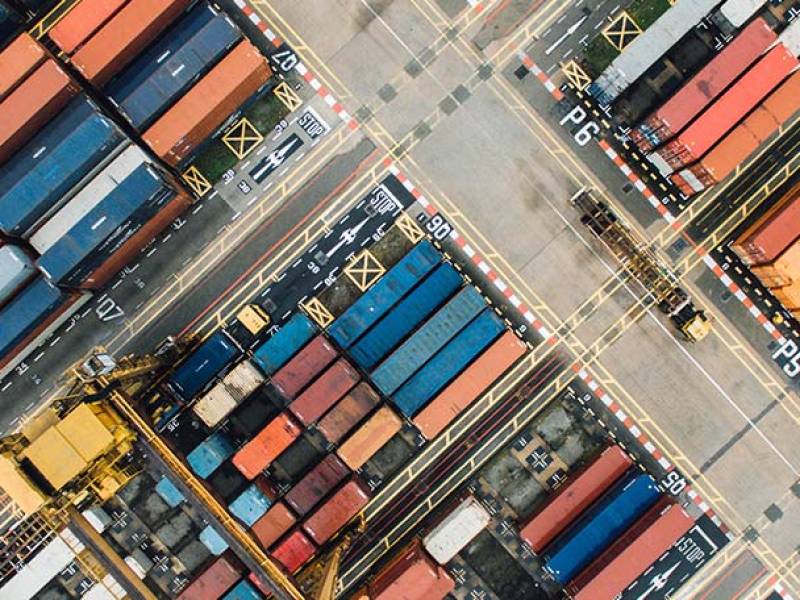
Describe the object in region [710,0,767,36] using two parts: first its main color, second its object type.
white shipping container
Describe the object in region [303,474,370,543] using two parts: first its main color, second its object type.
red shipping container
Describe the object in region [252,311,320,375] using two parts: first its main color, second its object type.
blue shipping container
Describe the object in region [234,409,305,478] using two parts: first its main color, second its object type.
orange shipping container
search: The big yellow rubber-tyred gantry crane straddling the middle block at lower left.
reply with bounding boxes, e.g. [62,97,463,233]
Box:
[0,320,368,600]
